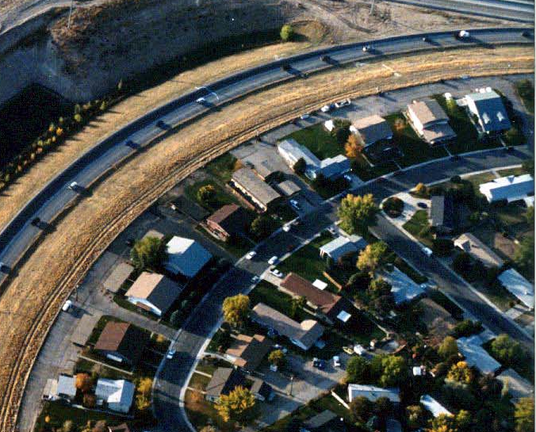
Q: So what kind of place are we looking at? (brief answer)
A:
residential area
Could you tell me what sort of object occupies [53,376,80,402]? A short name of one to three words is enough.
building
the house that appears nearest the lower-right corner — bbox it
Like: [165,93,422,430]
[499,371,536,400]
